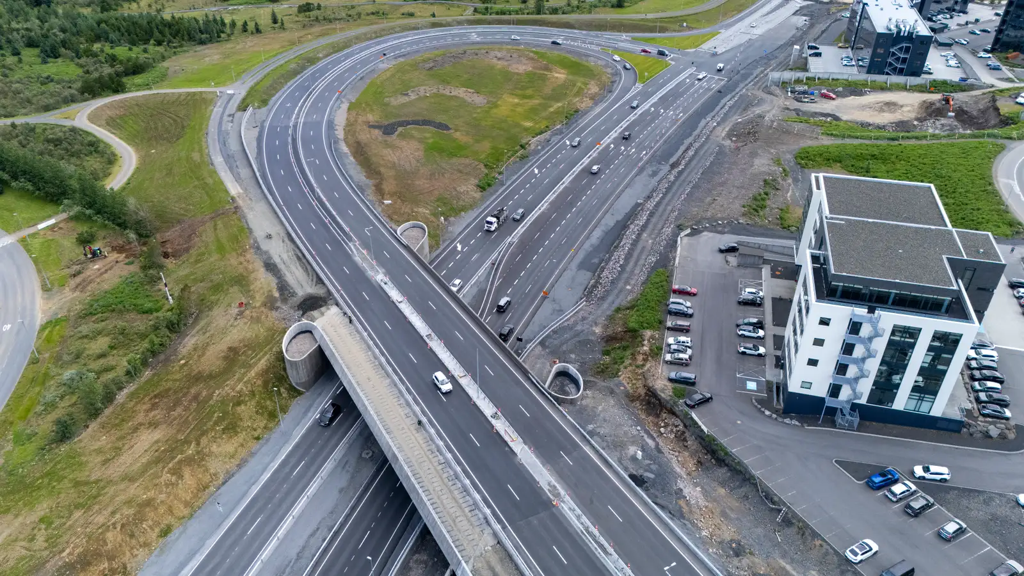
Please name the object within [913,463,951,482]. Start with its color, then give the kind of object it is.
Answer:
white car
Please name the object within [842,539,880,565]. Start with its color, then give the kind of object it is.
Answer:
white car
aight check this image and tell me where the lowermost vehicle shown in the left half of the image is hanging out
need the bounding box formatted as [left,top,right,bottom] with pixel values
[318,403,340,426]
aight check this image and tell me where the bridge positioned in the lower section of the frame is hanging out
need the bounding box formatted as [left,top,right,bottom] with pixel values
[317,217,552,576]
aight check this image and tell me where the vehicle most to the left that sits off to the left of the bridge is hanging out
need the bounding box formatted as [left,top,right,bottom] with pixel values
[79,244,103,259]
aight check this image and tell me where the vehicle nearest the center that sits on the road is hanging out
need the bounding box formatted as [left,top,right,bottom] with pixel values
[496,297,512,313]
